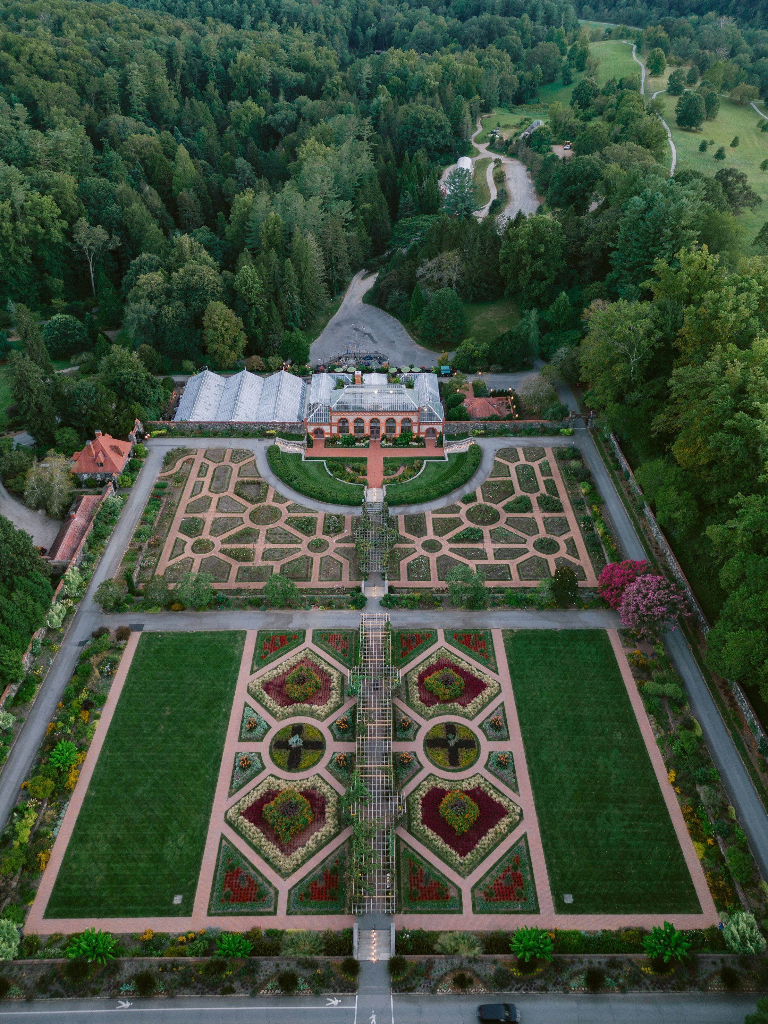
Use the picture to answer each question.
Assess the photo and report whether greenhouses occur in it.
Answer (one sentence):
Yes, looking at the shot, I can spot a greenhouse.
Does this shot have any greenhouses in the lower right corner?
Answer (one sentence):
No, I see no greenhouse in the lower right corner.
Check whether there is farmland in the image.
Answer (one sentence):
No, no farmland is visible.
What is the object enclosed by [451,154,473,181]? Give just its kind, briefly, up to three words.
house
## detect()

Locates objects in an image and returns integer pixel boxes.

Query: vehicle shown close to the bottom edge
[476,1000,521,1024]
